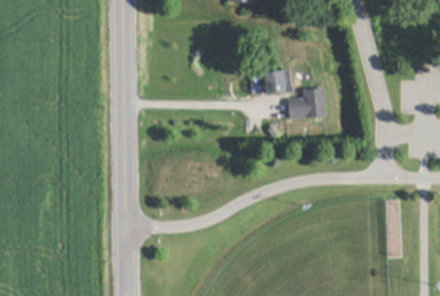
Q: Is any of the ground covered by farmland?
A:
Yes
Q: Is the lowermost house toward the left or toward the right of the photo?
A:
right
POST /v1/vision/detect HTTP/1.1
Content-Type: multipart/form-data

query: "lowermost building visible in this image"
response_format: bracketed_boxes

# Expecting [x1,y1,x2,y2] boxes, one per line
[288,86,326,120]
